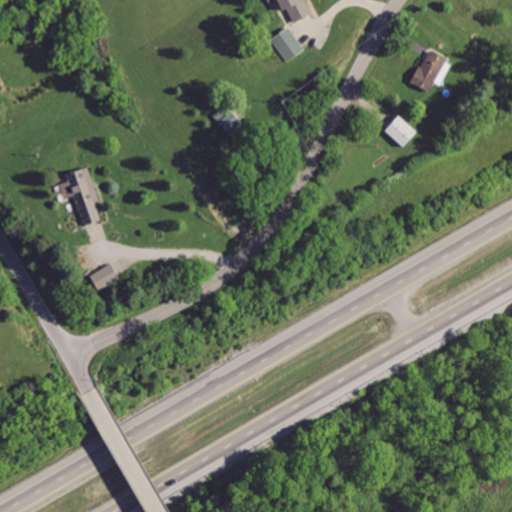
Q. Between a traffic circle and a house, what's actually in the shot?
house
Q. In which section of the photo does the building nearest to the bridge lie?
left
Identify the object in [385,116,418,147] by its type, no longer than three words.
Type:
house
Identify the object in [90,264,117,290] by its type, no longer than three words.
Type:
building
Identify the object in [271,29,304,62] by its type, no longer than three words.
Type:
barn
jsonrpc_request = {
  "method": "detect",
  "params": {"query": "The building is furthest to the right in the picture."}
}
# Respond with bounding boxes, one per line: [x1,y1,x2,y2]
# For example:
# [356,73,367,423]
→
[410,52,452,92]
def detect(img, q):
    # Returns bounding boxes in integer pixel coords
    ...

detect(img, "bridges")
[75,382,167,512]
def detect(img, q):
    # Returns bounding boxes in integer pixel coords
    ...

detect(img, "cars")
[165,478,175,486]
[308,38,316,48]
[298,35,308,43]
